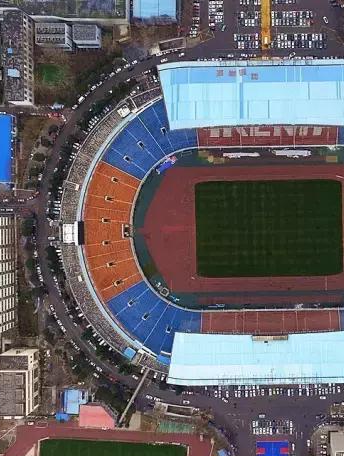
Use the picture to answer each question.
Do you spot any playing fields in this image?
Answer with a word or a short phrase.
Yes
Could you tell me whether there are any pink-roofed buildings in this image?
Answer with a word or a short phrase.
Yes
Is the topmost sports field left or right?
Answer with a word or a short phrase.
right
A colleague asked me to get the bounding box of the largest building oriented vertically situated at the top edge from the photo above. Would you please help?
[1,11,34,106]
